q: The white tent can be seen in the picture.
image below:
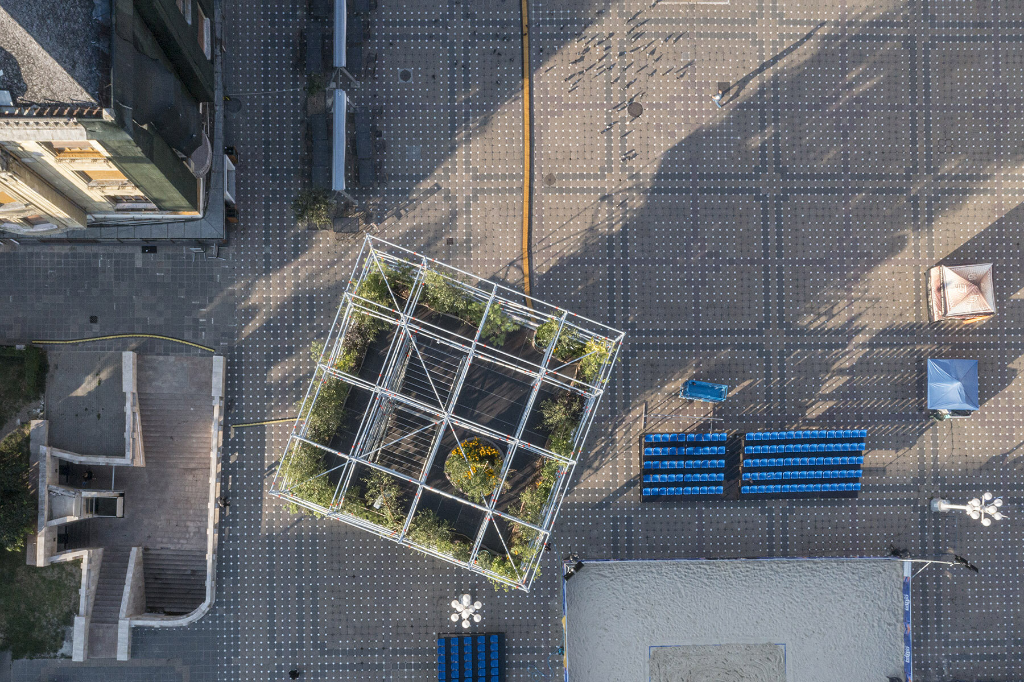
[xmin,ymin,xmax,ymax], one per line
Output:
[917,263,996,326]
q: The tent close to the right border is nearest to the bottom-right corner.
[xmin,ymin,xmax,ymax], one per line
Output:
[902,359,979,414]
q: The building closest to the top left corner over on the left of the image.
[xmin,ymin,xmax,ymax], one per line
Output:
[0,0,228,251]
